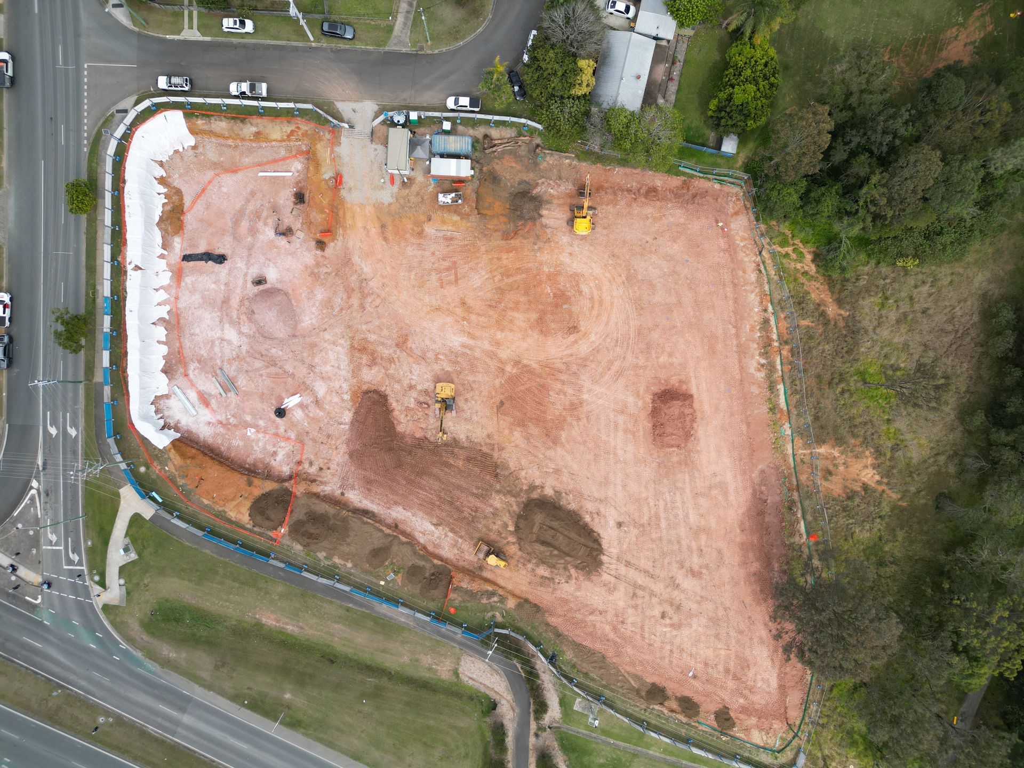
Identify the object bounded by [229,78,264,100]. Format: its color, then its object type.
white truck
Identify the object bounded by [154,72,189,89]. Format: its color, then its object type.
white car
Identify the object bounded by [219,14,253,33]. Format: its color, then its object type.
white car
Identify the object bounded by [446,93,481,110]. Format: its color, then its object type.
white vehicle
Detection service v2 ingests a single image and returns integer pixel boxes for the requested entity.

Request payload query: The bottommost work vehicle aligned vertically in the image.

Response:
[435,384,455,449]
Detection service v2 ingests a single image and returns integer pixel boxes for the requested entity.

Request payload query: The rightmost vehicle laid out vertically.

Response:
[570,168,596,233]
